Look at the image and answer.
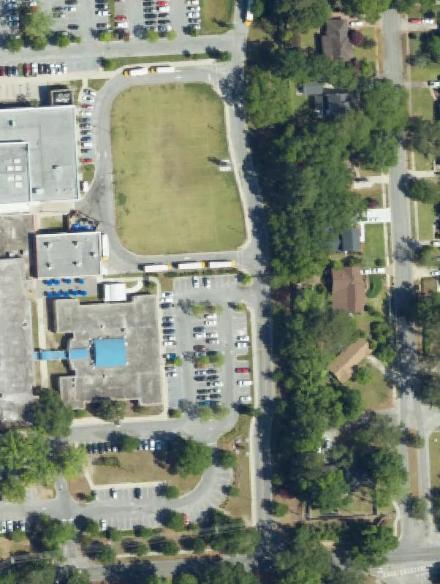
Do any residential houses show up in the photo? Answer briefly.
Yes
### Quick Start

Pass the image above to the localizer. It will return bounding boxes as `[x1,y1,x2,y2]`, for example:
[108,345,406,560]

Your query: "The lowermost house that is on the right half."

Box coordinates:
[327,338,371,384]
